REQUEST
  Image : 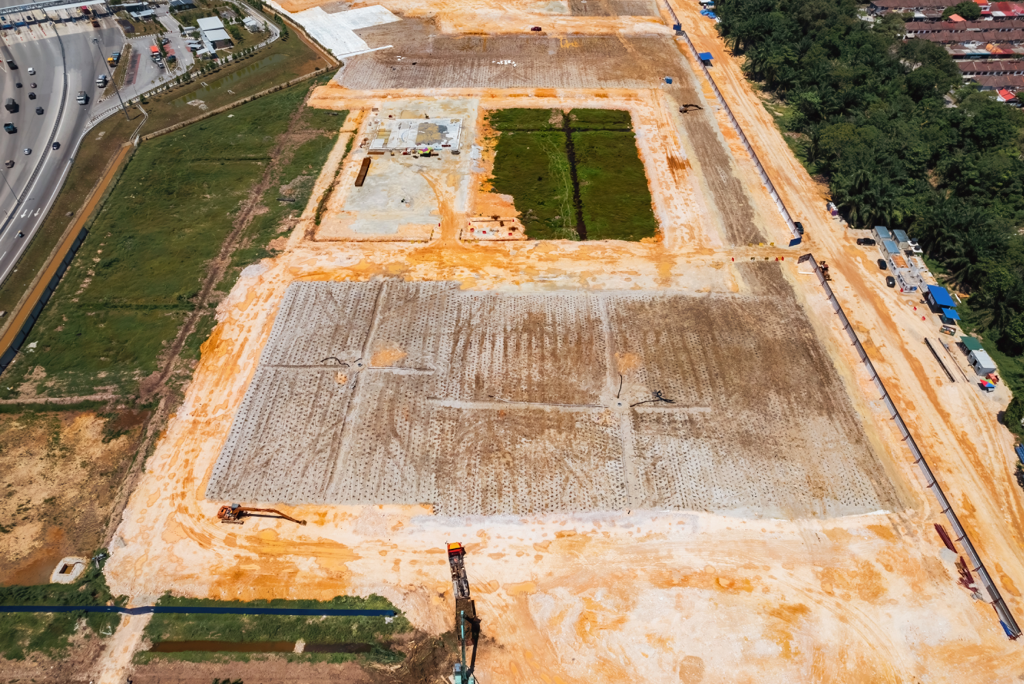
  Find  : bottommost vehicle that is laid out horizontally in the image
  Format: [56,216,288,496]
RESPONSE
[209,501,301,526]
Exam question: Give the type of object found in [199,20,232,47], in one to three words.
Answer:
building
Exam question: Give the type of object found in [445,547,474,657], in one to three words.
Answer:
truck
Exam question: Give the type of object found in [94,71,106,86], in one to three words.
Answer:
vehicle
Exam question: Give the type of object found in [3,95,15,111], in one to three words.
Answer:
vehicle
